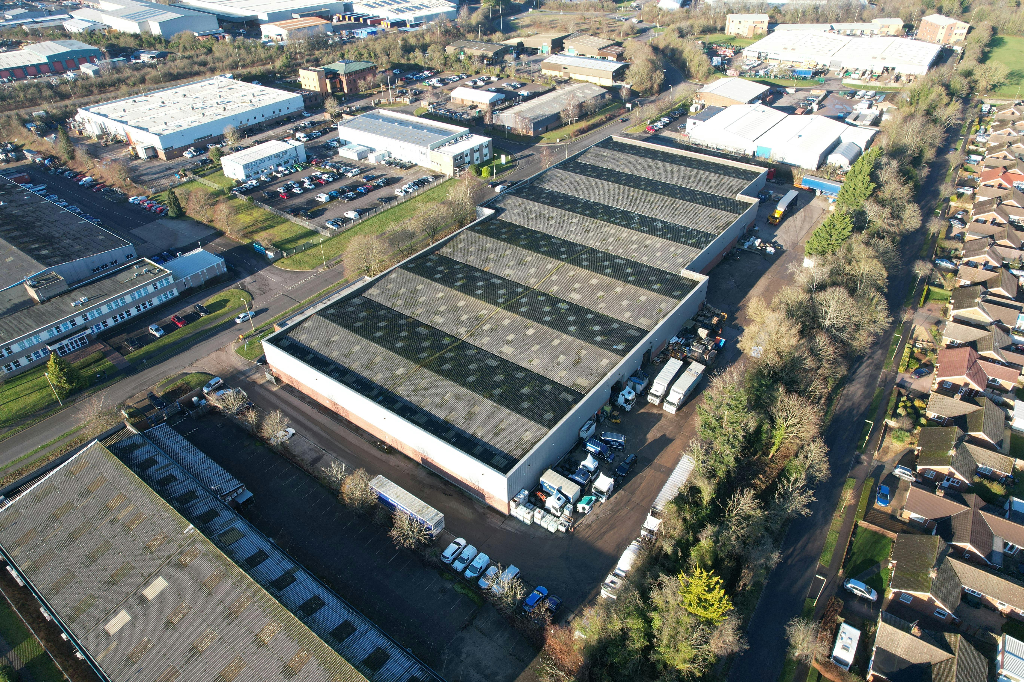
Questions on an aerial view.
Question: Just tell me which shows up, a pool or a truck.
truck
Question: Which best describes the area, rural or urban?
urban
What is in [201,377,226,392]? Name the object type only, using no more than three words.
car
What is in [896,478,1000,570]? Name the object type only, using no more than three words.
house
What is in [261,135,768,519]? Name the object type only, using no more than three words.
warehouse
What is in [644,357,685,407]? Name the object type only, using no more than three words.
truck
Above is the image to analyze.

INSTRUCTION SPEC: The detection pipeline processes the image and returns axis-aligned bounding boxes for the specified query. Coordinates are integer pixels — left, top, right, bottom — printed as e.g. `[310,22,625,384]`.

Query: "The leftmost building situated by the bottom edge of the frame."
[0,419,451,682]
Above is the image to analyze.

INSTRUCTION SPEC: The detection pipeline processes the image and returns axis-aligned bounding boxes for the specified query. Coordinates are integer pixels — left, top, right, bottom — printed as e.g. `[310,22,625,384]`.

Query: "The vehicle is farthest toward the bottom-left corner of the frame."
[145,393,167,410]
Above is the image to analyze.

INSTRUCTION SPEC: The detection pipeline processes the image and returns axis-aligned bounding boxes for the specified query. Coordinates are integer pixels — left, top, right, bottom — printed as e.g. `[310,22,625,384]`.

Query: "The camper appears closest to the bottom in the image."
[826,620,862,681]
